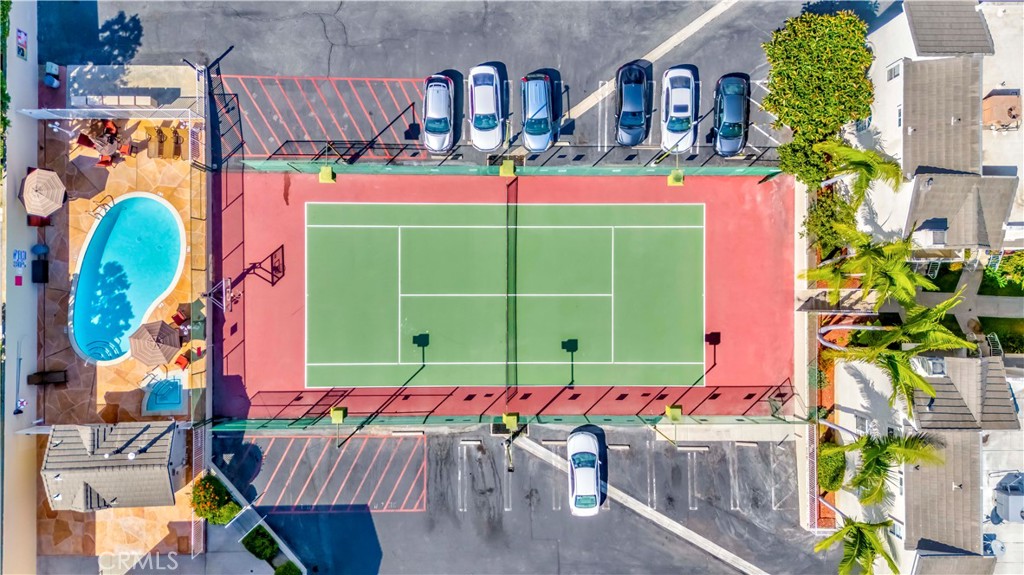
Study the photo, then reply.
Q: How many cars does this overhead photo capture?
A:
7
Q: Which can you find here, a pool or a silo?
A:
pool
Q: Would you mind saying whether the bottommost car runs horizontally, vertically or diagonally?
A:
vertically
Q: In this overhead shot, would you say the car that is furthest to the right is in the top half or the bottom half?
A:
top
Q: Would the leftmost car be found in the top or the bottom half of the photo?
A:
top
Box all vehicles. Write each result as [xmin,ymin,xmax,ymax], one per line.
[712,75,750,157]
[518,73,556,153]
[467,66,505,152]
[659,70,697,153]
[565,431,603,514]
[419,75,456,154]
[613,64,650,147]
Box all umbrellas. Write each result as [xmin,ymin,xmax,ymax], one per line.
[130,318,180,368]
[22,170,71,215]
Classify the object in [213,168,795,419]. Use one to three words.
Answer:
tennis court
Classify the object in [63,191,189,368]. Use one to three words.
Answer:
swimming pool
